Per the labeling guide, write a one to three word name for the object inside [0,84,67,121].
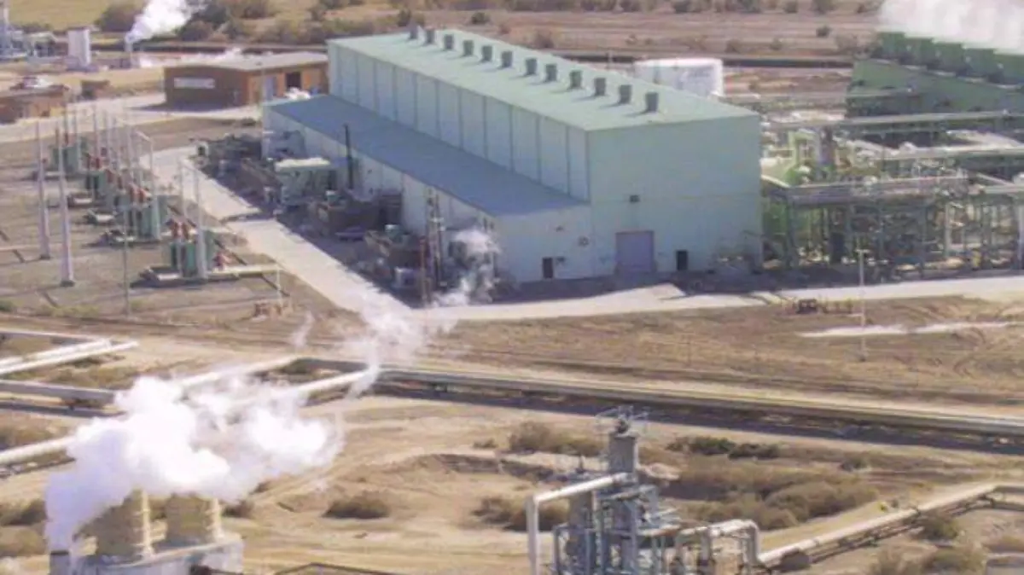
building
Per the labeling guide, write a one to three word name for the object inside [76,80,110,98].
shed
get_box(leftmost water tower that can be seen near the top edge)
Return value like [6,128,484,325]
[62,26,96,73]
